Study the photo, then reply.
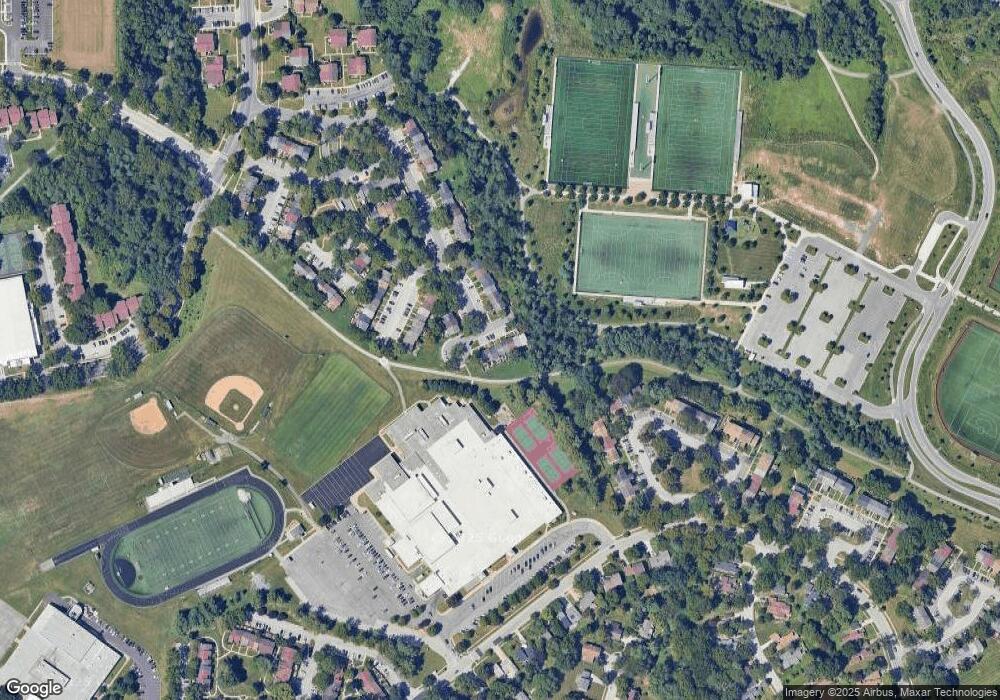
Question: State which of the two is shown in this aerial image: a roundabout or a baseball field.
baseball field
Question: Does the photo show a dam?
No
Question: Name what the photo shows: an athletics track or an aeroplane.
athletics track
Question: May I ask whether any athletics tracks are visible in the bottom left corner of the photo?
Yes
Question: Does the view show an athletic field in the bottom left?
Yes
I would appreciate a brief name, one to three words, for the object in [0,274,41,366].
building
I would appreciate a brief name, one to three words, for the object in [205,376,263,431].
baseball field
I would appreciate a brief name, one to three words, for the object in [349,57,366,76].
house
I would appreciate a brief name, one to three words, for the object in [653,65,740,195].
sports field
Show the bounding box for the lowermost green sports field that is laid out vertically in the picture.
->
[938,320,1000,460]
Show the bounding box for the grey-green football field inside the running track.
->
[114,486,273,595]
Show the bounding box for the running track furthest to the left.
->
[54,468,286,607]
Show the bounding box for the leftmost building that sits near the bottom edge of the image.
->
[0,603,124,700]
